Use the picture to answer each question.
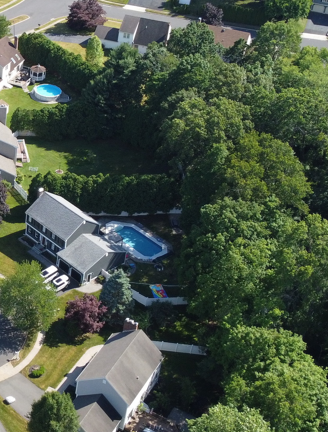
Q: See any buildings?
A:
Yes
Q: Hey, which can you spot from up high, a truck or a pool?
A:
pool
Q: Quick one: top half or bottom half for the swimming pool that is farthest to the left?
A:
top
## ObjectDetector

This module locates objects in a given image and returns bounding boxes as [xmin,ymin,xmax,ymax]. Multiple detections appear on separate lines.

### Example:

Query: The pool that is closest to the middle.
[105,221,167,261]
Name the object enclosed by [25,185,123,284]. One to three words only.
house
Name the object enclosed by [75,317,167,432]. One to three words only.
house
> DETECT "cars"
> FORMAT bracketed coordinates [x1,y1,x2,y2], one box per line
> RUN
[46,263,59,282]
[50,273,71,292]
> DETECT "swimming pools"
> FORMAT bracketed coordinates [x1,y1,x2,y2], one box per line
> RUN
[105,221,167,261]
[30,83,75,104]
